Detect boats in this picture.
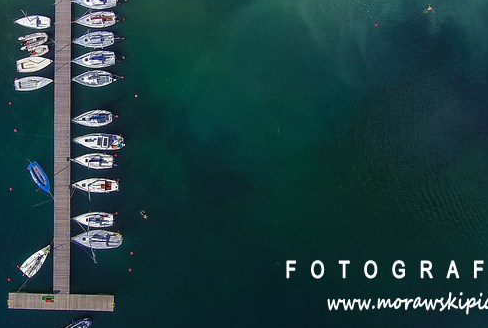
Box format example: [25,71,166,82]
[71,230,126,262]
[20,33,48,48]
[13,76,53,90]
[74,9,118,29]
[71,50,118,69]
[28,161,54,199]
[70,178,121,198]
[70,151,116,170]
[22,45,49,58]
[73,212,116,237]
[70,109,115,128]
[71,30,117,50]
[18,240,54,288]
[72,71,120,88]
[70,0,120,11]
[14,13,53,30]
[72,132,127,152]
[15,56,55,72]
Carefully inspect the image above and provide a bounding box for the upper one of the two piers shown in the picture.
[52,0,72,293]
